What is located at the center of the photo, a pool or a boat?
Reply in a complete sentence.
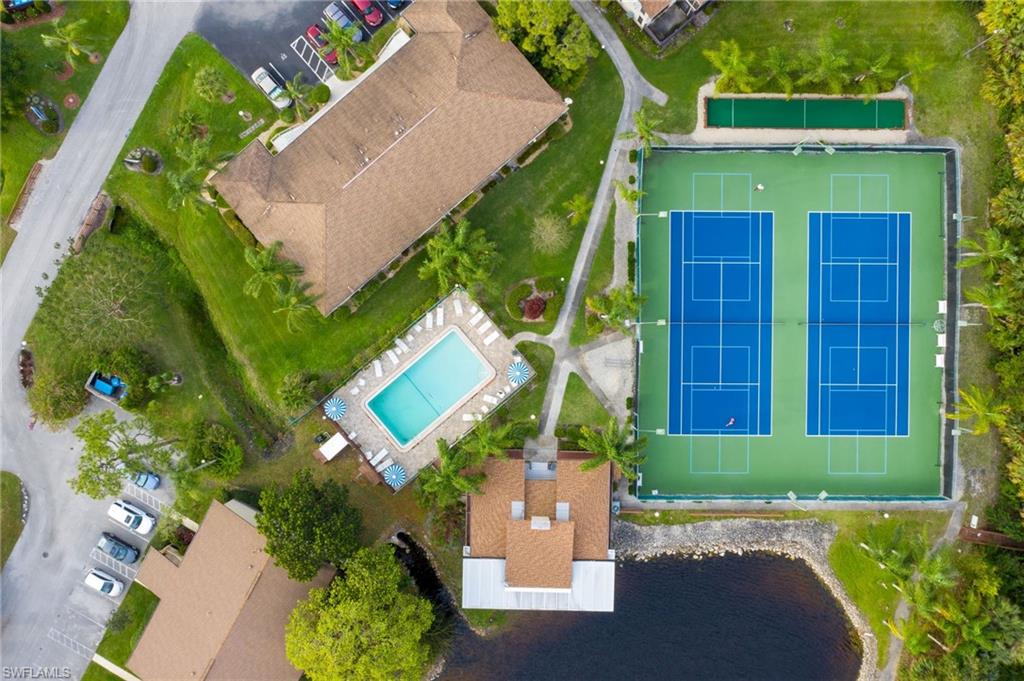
What appears at the center of the photo is a pool.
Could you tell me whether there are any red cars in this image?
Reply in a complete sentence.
Yes, a red car appears in the view.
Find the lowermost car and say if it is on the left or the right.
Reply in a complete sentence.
It is on the left.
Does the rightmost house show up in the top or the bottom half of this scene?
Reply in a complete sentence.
Seen from above, the rightmost house lies in the top half of the view.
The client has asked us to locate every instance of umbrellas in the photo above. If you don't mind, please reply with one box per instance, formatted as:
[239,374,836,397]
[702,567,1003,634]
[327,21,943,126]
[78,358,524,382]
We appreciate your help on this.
[506,361,530,384]
[324,396,347,419]
[384,464,407,487]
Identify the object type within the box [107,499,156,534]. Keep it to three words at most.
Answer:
car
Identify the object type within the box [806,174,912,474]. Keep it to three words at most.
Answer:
tennis court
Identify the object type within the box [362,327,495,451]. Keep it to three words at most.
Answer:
swimming pool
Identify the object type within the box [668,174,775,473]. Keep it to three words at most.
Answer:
tennis court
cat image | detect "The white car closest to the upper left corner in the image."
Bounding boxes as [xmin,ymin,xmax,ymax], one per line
[250,65,292,110]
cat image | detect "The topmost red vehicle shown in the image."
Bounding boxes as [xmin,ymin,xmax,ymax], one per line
[353,0,386,27]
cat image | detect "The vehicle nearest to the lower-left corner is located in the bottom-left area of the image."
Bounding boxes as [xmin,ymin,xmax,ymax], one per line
[82,567,125,598]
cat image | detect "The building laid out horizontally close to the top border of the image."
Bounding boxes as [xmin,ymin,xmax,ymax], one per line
[618,0,718,47]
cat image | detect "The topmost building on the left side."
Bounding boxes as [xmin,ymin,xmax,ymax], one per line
[208,0,566,316]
